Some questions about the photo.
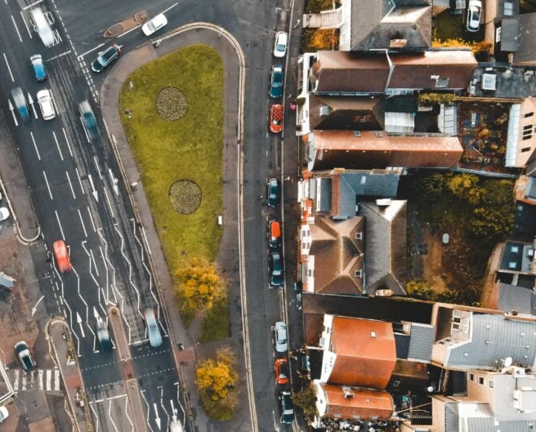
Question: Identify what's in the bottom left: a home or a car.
car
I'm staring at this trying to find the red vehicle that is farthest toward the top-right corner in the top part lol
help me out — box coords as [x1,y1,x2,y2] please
[268,104,284,132]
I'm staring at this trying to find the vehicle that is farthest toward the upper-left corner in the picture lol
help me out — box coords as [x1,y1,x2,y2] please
[30,8,57,49]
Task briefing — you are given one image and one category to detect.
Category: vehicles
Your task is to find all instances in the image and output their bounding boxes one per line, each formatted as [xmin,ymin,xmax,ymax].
[0,273,18,291]
[142,308,162,348]
[94,317,114,353]
[268,251,285,286]
[29,54,48,83]
[267,65,284,98]
[0,404,11,423]
[267,220,283,248]
[274,357,289,384]
[272,321,289,352]
[168,419,183,432]
[463,0,479,32]
[37,88,57,122]
[30,8,57,49]
[51,238,71,271]
[15,342,38,372]
[140,10,170,38]
[272,31,287,58]
[266,176,280,208]
[0,207,11,222]
[268,104,284,132]
[11,87,30,123]
[90,42,122,74]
